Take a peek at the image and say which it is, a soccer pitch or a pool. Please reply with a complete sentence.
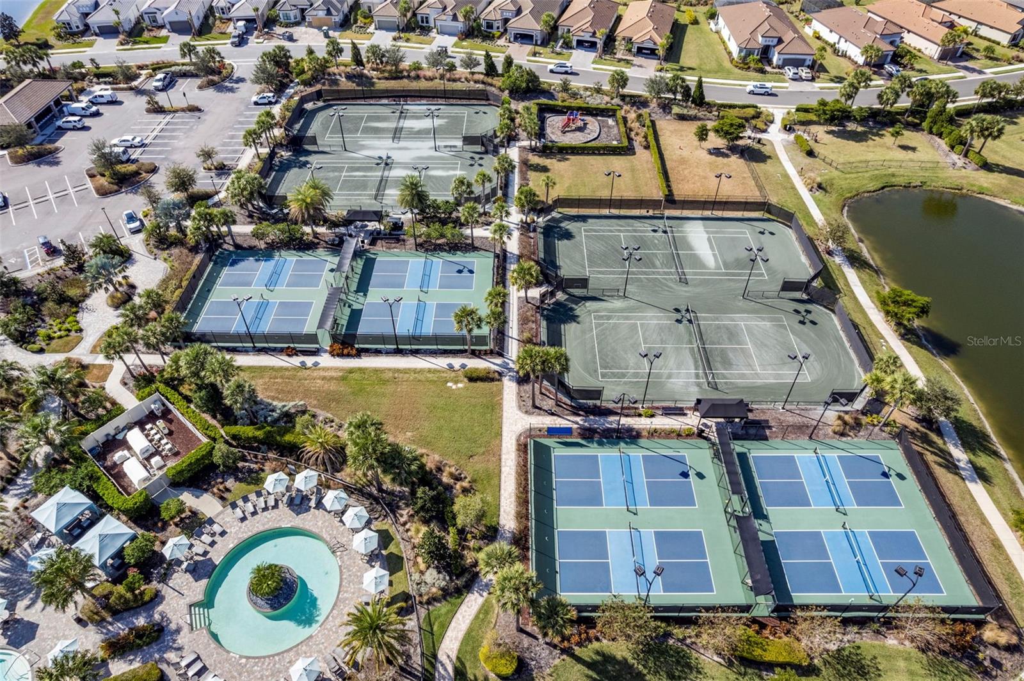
I can see a pool in this picture.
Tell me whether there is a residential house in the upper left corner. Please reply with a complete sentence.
Yes, a residential house is visible in the upper left corner.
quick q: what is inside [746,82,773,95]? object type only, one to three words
vehicle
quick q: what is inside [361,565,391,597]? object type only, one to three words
umbrella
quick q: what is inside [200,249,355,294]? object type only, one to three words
sports court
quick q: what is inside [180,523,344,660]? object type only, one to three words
swimming pool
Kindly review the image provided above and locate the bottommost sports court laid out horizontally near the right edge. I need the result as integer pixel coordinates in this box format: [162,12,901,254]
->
[733,518,983,618]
